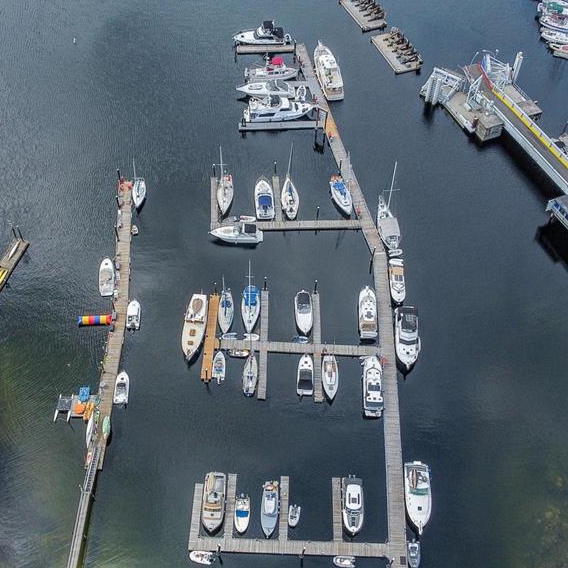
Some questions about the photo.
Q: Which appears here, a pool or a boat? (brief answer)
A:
boat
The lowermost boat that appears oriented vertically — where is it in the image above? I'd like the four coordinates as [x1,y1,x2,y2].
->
[407,538,420,568]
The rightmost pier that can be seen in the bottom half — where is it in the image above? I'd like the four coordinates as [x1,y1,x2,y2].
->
[372,253,409,568]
